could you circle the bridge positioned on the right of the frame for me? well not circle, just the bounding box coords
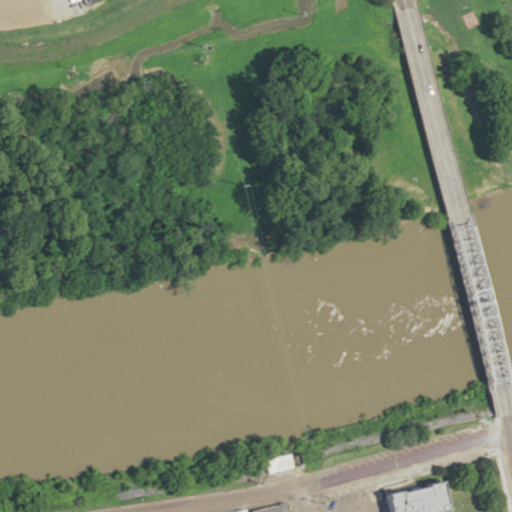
[394,2,512,419]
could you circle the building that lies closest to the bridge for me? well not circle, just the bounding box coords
[386,480,456,512]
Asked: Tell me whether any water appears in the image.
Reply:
Yes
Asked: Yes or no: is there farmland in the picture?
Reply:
No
